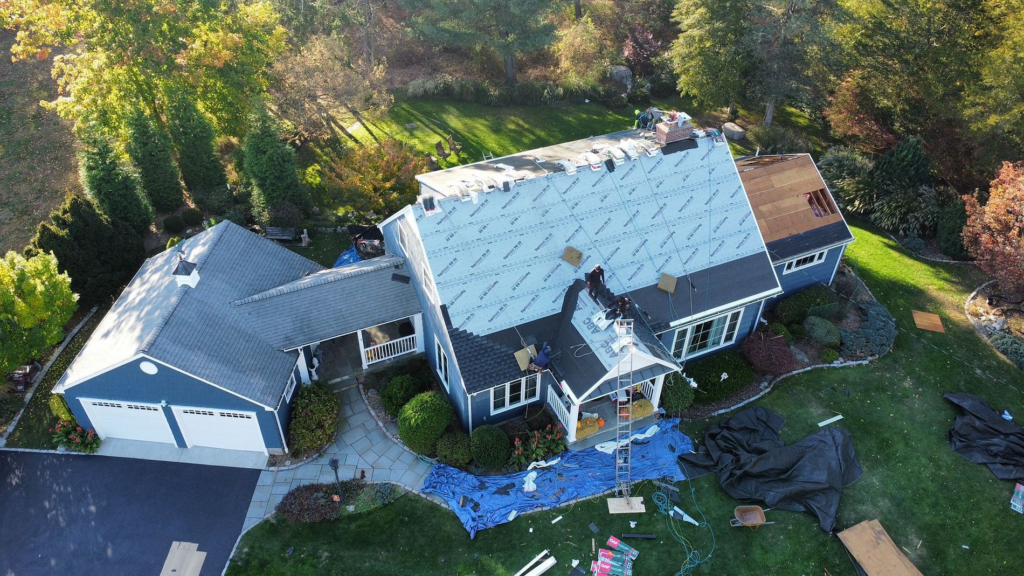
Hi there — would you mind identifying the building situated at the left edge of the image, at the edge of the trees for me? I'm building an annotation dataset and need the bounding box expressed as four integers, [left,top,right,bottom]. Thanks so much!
[49,220,331,460]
